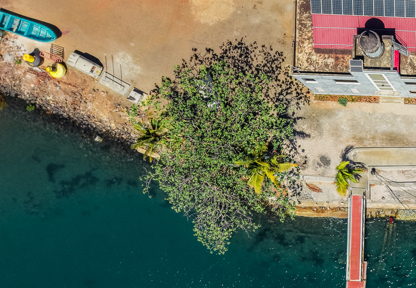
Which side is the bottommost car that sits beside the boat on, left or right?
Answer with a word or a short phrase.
left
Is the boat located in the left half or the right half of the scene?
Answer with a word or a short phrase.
left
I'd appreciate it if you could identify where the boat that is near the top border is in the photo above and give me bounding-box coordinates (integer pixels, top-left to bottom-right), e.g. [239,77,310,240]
[0,10,58,42]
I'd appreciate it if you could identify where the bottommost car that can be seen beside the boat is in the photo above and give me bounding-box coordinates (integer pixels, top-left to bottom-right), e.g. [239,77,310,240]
[61,48,103,78]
